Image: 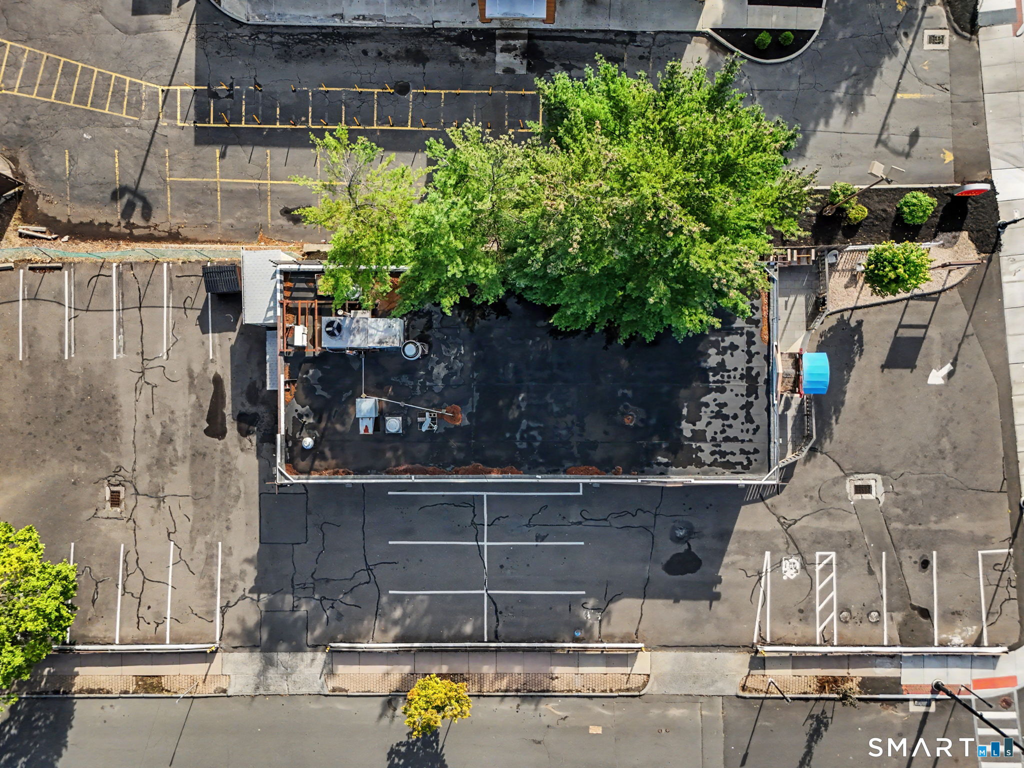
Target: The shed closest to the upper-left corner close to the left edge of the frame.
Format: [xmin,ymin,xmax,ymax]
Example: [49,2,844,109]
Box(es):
[0,172,37,210]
